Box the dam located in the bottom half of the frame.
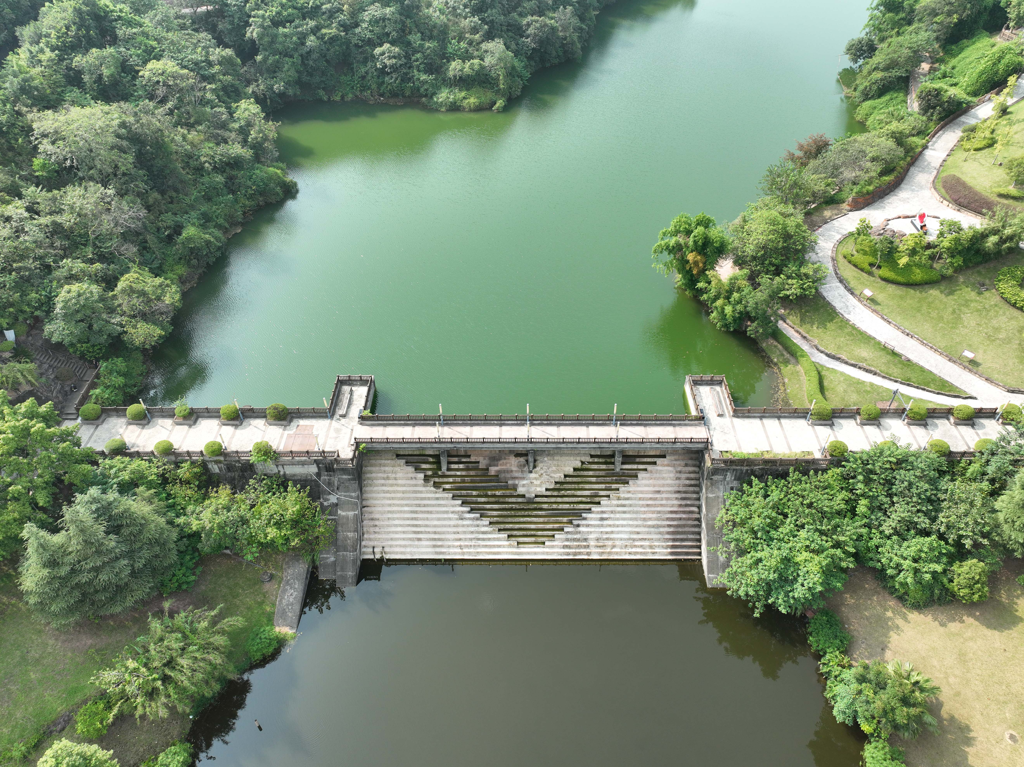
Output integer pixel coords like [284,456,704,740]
[12,377,1024,587]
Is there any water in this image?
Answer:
Yes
